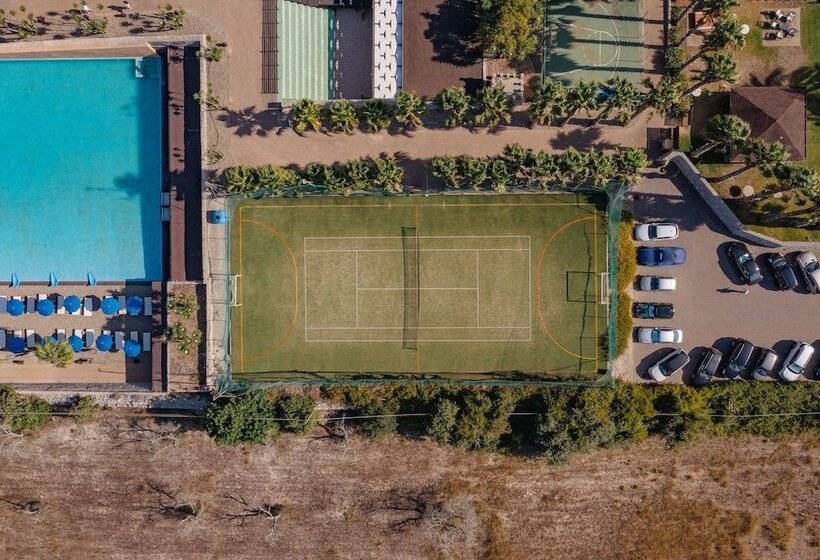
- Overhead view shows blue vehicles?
Yes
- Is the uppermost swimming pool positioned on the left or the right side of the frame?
left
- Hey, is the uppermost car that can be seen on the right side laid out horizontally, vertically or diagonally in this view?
horizontally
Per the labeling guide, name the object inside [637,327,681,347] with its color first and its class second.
white car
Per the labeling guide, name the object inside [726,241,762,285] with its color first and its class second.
black car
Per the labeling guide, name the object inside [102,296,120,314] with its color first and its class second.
blue umbrella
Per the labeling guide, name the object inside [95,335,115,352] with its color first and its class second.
blue umbrella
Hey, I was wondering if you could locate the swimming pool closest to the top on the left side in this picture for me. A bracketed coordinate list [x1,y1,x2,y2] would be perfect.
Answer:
[0,57,162,284]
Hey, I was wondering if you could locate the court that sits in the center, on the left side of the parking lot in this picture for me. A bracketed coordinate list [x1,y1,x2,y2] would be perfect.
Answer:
[227,192,610,379]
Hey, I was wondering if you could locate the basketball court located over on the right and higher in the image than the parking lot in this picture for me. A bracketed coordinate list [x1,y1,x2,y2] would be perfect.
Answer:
[547,0,643,102]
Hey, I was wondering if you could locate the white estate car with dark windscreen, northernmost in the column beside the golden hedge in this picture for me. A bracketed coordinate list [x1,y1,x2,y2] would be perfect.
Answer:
[634,220,679,242]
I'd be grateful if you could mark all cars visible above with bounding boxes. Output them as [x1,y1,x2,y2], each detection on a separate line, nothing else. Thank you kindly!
[636,246,685,268]
[720,336,755,381]
[808,357,820,386]
[776,340,814,384]
[726,241,762,285]
[637,327,681,347]
[633,301,675,321]
[646,347,689,381]
[638,274,676,293]
[748,346,779,381]
[791,250,820,294]
[689,344,725,388]
[634,220,679,242]
[762,251,799,293]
